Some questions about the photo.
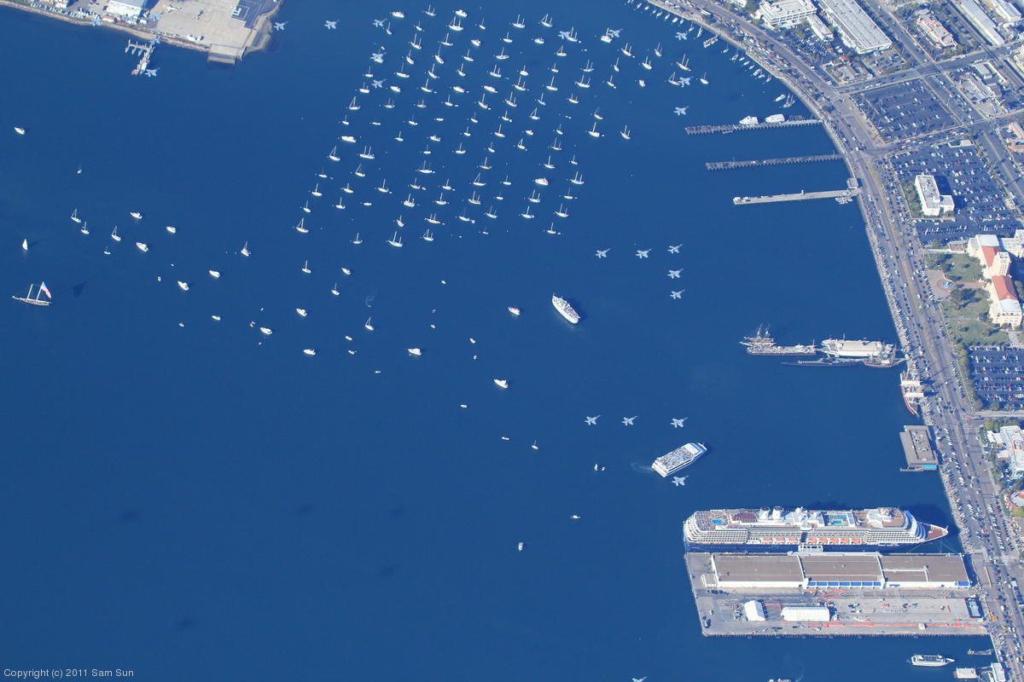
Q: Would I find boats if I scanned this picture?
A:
Yes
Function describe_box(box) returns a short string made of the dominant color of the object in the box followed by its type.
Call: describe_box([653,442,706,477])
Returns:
white boat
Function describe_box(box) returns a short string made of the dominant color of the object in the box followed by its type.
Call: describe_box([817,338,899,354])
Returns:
white ship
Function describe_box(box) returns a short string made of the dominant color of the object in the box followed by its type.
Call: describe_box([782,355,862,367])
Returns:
blue ship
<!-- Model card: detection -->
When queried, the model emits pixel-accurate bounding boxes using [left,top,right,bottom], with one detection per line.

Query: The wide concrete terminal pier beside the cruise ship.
[684,552,990,638]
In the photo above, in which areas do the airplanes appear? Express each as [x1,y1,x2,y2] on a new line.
[677,77,693,85]
[670,418,688,428]
[594,249,611,258]
[634,249,653,258]
[606,29,623,36]
[668,290,685,299]
[666,245,684,254]
[670,477,690,487]
[631,677,649,682]
[557,31,573,39]
[673,107,690,116]
[620,416,640,426]
[582,416,602,427]
[323,21,339,29]
[674,32,691,39]
[271,22,289,30]
[143,68,162,76]
[667,270,684,279]
[368,80,385,88]
[369,53,386,60]
[370,19,388,26]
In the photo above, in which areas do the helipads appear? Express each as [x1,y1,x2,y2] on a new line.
[231,3,250,20]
